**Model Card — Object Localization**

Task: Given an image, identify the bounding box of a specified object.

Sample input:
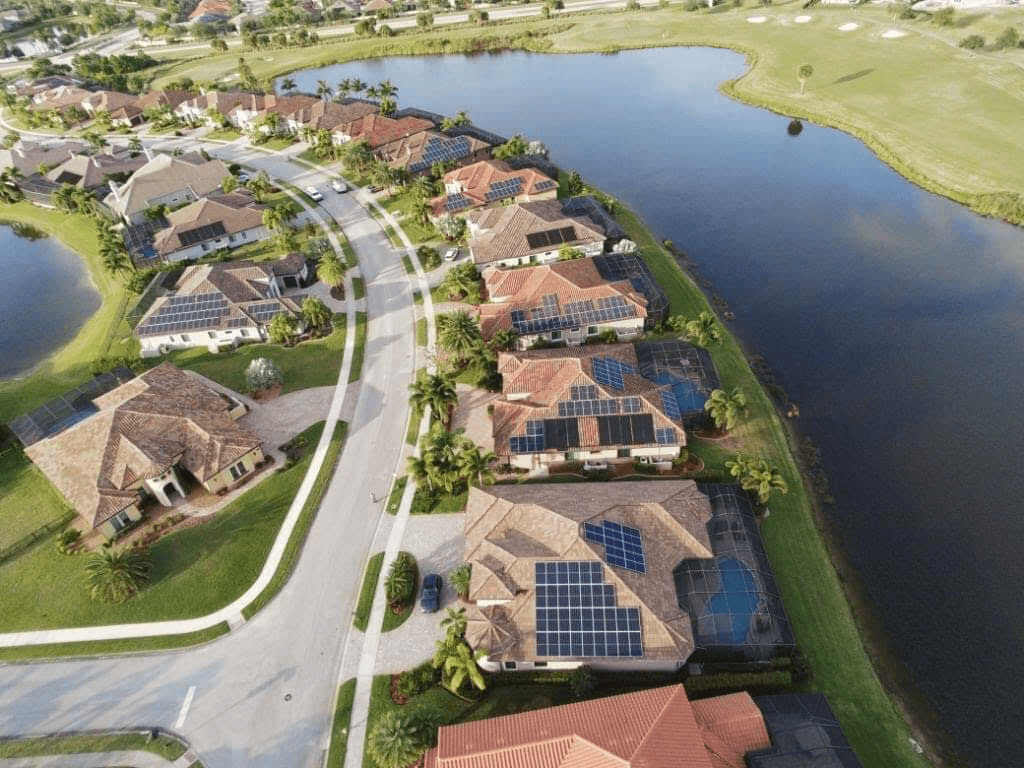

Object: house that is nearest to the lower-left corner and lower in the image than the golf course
[20,361,269,539]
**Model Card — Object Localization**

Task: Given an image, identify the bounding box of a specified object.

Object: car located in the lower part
[418,568,442,611]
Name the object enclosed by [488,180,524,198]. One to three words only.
solar array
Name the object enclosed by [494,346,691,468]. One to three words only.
house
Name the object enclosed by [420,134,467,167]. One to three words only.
solar array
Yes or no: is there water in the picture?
Yes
